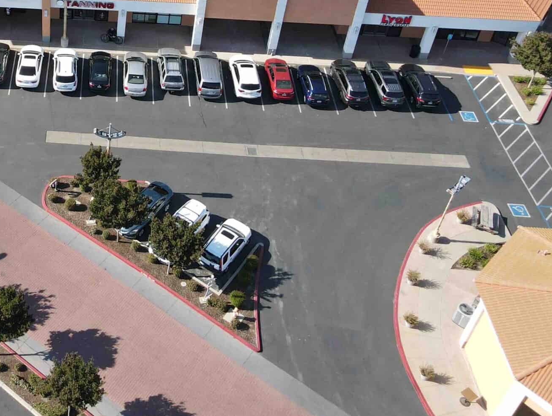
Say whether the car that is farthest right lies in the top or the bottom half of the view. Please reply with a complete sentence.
The car that is farthest right is in the top half of the image.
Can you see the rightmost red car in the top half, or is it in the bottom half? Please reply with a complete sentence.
The rightmost red car is in the top half of the image.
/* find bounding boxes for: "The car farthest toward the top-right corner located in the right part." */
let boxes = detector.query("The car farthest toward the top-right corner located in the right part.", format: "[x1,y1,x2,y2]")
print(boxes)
[400,62,443,110]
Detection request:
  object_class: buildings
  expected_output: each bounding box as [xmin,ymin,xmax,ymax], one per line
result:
[453,226,552,416]
[0,0,552,65]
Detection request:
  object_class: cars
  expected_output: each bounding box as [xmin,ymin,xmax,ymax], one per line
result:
[333,60,371,107]
[171,195,212,238]
[87,52,114,93]
[158,46,186,92]
[400,62,443,110]
[367,60,407,107]
[264,58,296,101]
[121,54,150,98]
[193,52,224,100]
[17,45,45,88]
[54,47,82,93]
[119,179,176,239]
[296,61,331,106]
[232,55,262,99]
[0,42,12,85]
[197,217,260,282]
